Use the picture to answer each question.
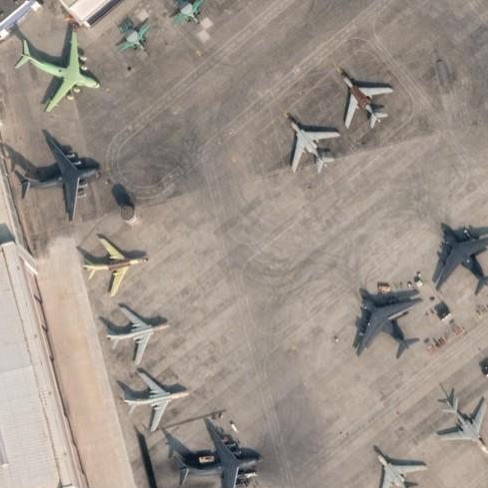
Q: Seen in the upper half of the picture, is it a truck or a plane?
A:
plane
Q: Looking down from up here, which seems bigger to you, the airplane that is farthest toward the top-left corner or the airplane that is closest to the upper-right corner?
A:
the airplane that is farthest toward the top-left corner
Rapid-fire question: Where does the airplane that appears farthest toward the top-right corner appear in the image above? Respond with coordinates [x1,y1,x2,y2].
[345,80,393,130]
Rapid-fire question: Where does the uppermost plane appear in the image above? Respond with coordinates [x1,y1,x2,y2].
[173,0,207,25]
